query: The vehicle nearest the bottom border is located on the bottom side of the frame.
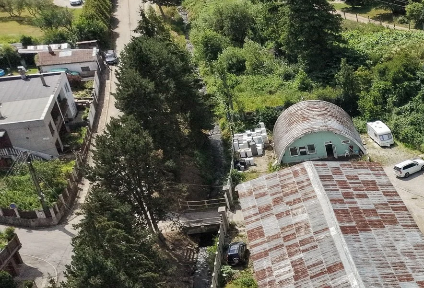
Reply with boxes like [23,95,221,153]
[225,239,245,262]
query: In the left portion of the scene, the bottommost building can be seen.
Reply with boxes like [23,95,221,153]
[0,71,76,162]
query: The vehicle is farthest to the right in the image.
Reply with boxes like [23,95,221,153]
[391,156,424,176]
